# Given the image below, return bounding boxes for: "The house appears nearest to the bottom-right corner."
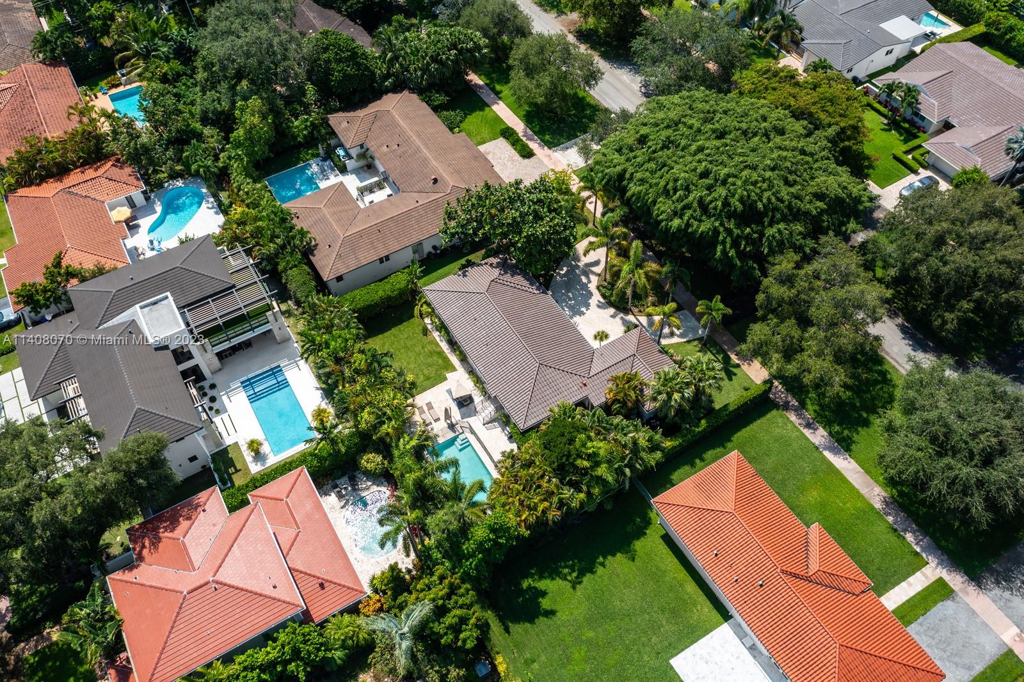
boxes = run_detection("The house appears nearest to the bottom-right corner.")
[652,448,946,682]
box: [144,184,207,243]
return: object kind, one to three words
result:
swimming pool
